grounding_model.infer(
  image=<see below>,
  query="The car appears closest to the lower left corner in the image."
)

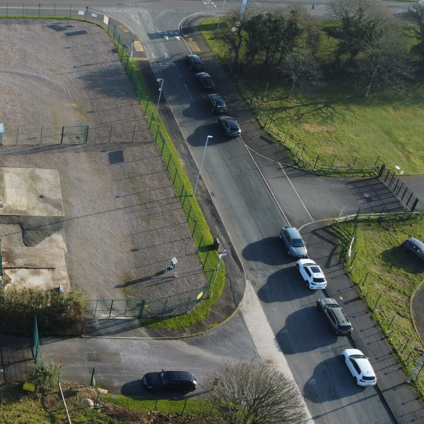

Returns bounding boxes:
[142,370,199,397]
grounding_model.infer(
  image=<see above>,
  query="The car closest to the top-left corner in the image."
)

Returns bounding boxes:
[184,57,203,73]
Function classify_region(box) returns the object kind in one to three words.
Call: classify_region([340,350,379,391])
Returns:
car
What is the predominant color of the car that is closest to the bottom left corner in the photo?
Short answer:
black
